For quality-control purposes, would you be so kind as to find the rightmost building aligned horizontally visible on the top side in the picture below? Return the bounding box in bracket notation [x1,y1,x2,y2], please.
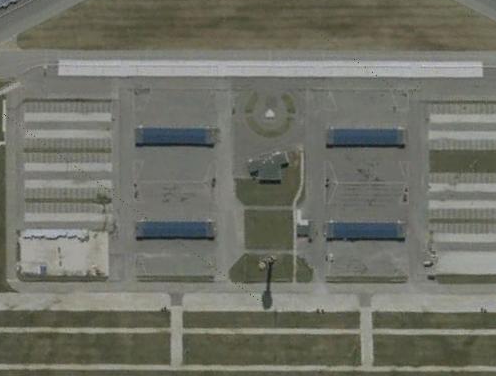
[327,127,404,145]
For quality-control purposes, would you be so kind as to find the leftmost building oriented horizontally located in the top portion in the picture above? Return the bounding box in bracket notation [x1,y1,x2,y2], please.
[136,126,214,144]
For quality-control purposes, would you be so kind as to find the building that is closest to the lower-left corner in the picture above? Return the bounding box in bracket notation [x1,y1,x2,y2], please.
[136,221,214,238]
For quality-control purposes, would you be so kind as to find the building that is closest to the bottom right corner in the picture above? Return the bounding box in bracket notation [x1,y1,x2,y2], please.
[327,221,405,239]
